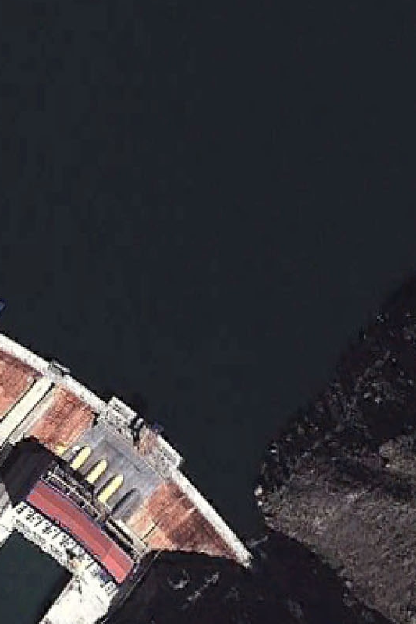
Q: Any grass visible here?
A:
No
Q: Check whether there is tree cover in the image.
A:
No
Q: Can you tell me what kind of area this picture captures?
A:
port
